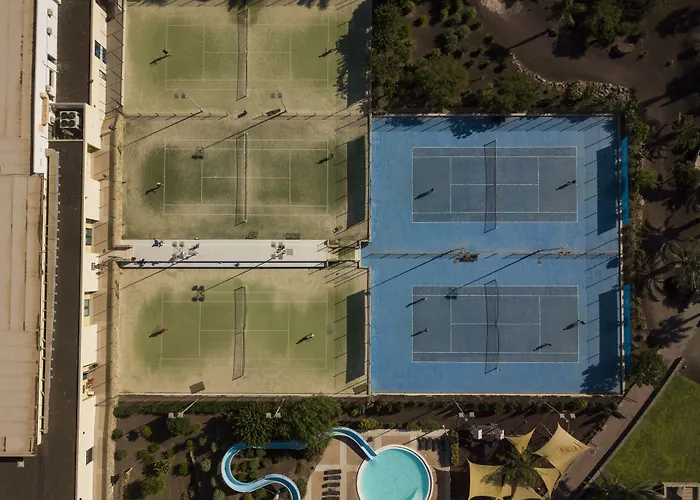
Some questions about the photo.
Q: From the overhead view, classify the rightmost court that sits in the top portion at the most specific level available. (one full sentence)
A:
I'd identify the rightmost court that sits in the top portion as a tennis court.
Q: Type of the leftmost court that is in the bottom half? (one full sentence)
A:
Looking closely, the leftmost court that is in the bottom half is a tennis court.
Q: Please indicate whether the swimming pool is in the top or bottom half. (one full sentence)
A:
You can find the swimming pool in the bottom half.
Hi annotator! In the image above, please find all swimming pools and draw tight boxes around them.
[357,445,433,500]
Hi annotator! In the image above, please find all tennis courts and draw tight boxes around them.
[120,116,367,241]
[113,263,368,395]
[362,253,621,393]
[362,116,620,252]
[124,0,367,114]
